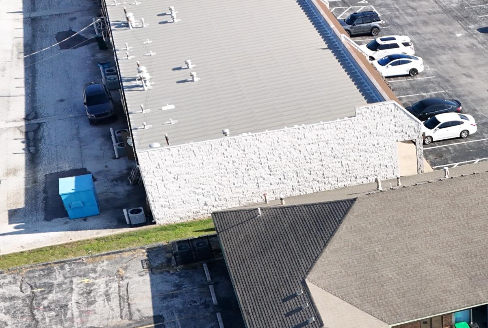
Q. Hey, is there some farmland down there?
No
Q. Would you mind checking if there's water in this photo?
No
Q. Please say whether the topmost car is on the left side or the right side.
right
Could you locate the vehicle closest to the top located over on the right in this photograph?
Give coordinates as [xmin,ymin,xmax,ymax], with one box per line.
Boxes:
[340,8,383,36]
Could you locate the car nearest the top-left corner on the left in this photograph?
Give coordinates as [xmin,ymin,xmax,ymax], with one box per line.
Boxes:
[83,80,117,124]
